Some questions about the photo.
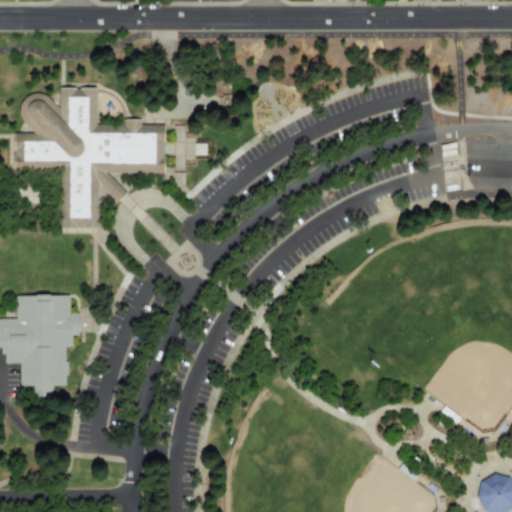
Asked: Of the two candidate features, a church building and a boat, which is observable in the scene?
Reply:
church building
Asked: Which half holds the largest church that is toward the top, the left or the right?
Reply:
left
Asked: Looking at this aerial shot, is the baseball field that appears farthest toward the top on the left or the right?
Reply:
right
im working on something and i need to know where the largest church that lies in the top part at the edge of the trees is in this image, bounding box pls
[15,84,165,228]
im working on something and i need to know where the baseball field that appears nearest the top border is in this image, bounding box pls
[328,219,512,432]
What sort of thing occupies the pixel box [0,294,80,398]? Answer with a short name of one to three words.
building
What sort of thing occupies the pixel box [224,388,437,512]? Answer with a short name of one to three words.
baseball field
